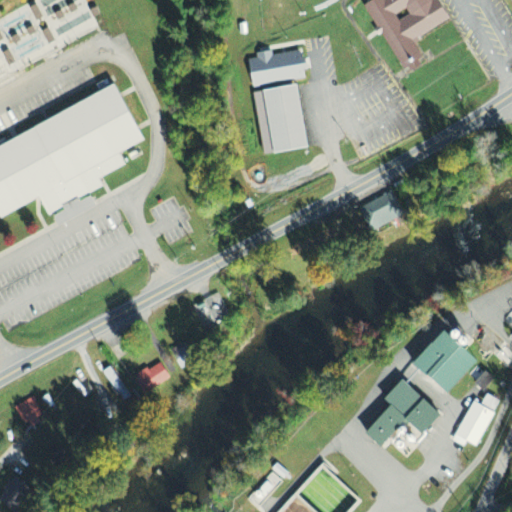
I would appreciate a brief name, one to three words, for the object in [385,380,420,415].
building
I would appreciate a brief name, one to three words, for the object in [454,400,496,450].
building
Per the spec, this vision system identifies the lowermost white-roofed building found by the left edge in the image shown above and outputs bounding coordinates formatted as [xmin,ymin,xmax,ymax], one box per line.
[0,78,143,214]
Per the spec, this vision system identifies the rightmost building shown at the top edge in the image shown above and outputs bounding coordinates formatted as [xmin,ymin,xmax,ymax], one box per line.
[366,0,448,68]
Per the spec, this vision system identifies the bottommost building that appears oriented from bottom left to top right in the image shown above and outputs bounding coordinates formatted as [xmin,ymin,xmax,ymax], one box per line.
[249,472,282,506]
